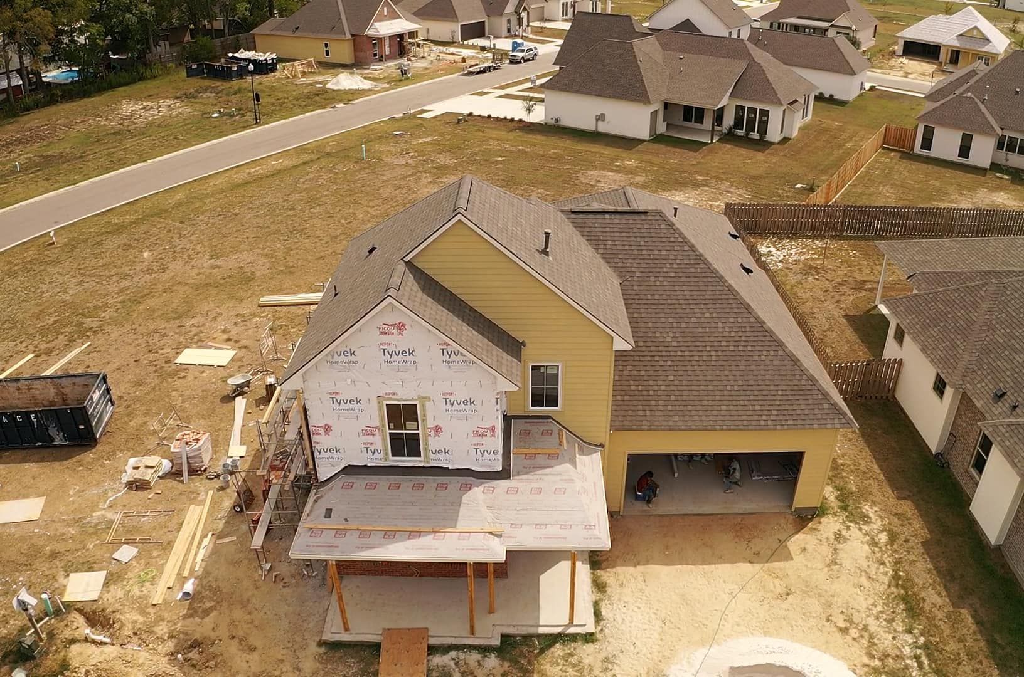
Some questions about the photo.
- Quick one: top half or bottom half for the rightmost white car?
top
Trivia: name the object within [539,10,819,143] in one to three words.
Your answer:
house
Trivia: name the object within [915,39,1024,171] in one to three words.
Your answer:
house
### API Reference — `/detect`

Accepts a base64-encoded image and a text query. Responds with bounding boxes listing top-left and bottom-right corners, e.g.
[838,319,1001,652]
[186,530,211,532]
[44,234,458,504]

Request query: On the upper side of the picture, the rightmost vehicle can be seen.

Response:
[506,40,540,61]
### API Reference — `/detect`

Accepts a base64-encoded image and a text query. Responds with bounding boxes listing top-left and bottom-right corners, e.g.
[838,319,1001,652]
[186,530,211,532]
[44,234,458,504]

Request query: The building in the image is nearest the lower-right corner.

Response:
[874,237,1024,560]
